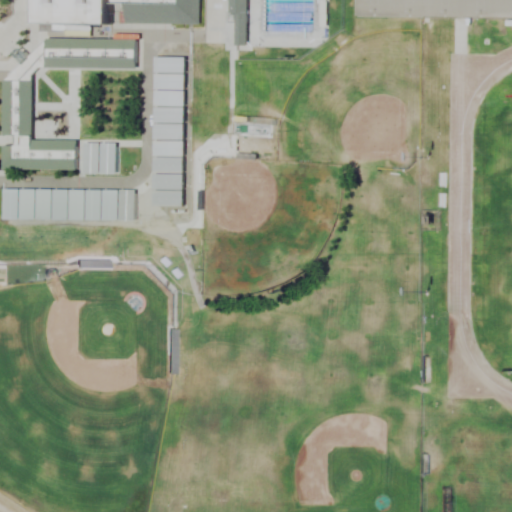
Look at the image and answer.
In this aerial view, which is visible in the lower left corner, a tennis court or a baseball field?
baseball field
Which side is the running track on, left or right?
right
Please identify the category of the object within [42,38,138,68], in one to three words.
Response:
building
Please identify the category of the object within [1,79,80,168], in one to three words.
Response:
building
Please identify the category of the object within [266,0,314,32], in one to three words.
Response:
swimming pool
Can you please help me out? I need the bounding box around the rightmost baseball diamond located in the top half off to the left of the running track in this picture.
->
[278,30,421,168]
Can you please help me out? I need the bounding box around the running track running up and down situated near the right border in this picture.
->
[448,46,512,410]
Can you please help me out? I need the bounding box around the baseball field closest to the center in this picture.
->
[205,158,343,296]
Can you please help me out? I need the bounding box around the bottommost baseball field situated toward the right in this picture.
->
[296,414,388,506]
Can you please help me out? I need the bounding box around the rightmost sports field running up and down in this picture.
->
[474,72,512,380]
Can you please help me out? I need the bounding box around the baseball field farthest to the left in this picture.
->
[0,266,174,512]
